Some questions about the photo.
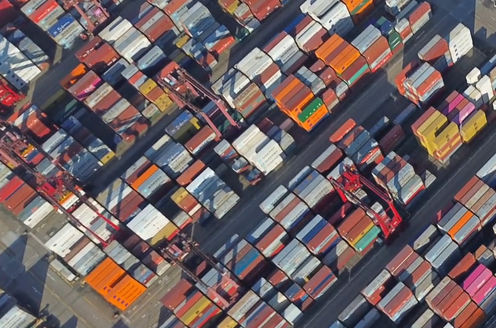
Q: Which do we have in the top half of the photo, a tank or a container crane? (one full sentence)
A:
What appears in the top half of the photo is a container crane.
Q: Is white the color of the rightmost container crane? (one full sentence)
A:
No, the color of the rightmost container crane is red.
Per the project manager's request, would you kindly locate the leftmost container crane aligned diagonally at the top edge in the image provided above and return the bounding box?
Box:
[67,0,142,70]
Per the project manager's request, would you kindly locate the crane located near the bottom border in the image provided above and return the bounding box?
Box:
[157,229,252,314]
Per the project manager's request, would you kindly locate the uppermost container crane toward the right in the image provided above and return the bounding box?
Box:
[332,160,412,247]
